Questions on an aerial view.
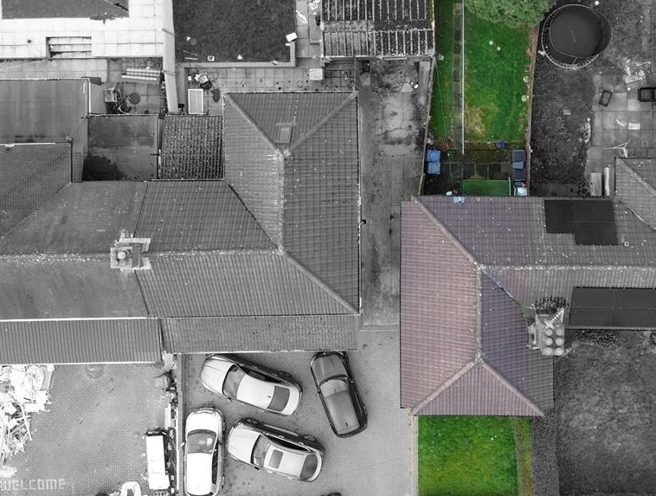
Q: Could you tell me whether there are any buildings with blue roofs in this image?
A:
No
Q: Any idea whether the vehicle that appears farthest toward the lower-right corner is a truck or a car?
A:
car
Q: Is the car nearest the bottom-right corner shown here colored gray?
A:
Yes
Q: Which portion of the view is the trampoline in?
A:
top right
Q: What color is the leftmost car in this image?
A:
white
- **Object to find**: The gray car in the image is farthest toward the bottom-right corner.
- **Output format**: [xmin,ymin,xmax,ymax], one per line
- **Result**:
[314,351,371,439]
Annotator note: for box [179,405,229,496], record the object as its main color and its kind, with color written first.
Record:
white car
